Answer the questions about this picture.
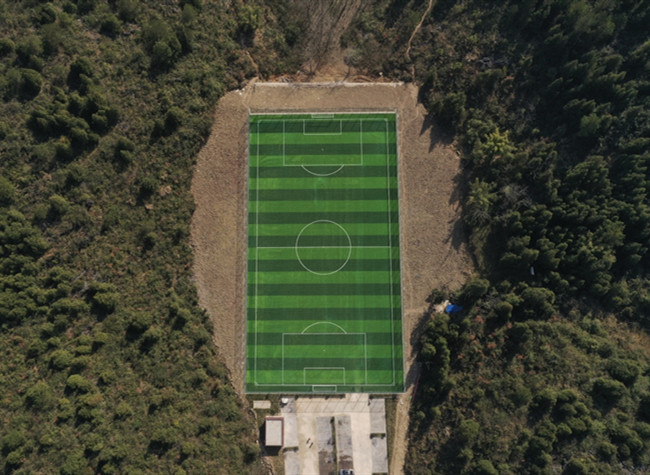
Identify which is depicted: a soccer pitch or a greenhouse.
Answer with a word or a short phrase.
soccer pitch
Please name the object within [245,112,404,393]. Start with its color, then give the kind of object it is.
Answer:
green soccer field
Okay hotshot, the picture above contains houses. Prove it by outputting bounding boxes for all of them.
[267,416,284,446]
